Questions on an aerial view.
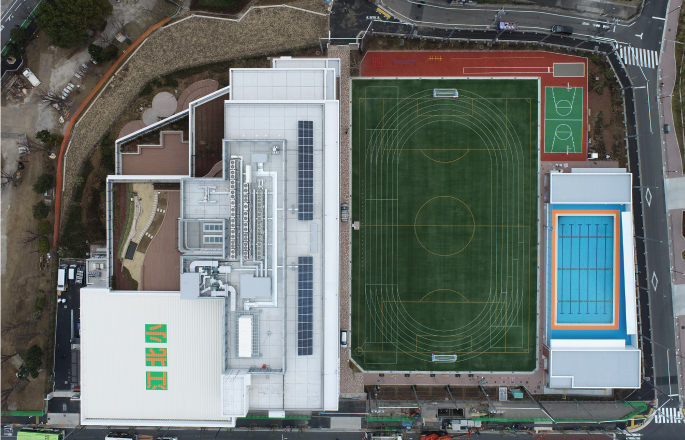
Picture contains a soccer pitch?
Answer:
Yes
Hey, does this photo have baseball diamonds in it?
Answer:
No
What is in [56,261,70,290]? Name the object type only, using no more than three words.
vehicle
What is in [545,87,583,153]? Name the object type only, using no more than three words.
basketball court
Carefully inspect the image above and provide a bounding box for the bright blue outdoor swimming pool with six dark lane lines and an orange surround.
[553,210,619,330]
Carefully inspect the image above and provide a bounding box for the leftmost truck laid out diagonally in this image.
[22,67,45,90]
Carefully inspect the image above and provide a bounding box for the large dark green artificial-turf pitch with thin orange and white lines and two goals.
[349,74,545,377]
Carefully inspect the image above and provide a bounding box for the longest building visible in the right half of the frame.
[542,169,642,394]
